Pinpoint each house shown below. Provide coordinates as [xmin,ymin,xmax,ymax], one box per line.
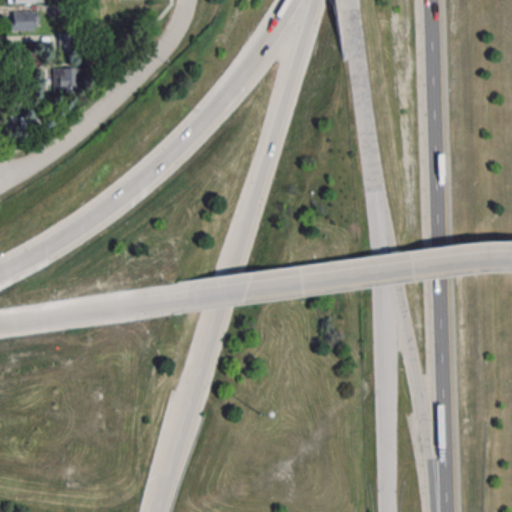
[14,11,40,32]
[53,67,78,89]
[15,0,45,8]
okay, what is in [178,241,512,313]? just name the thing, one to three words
bridge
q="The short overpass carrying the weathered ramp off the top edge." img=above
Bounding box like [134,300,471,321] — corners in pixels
[336,0,367,61]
